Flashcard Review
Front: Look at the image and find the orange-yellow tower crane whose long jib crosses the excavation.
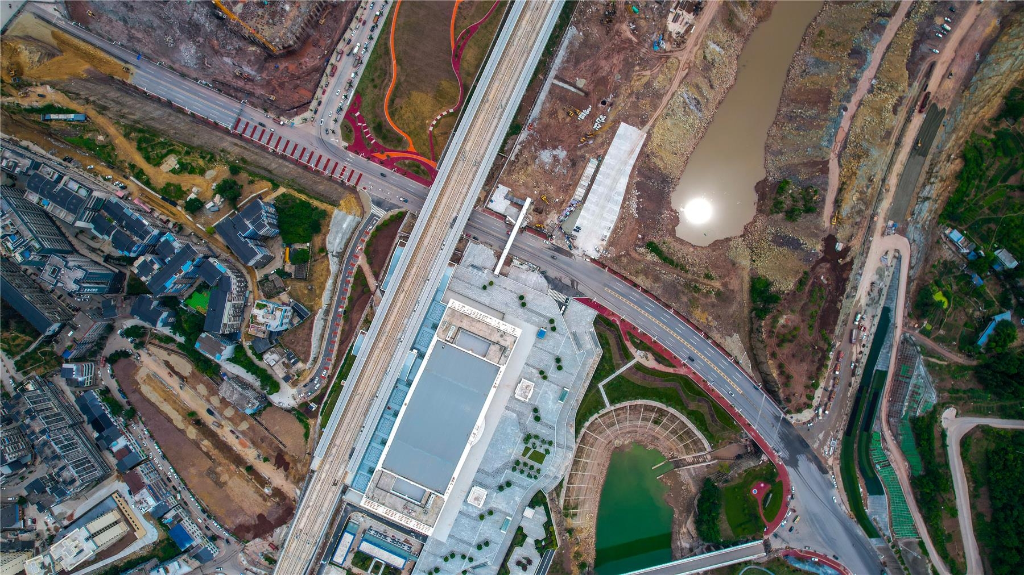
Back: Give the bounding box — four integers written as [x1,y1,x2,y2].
[202,0,285,60]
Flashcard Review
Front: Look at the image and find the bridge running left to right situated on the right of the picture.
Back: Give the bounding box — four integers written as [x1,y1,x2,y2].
[620,541,766,575]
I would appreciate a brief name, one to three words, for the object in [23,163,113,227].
building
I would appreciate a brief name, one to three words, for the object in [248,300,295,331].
house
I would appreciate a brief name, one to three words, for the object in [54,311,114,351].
building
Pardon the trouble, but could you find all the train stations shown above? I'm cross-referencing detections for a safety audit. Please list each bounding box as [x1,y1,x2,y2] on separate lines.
[346,240,522,535]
